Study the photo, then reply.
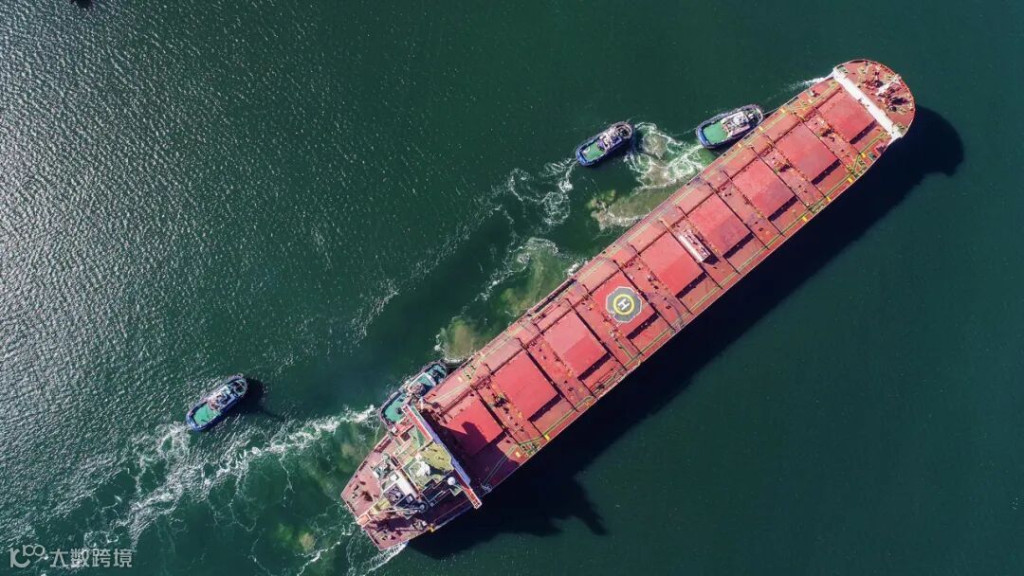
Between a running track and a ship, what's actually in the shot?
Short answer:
ship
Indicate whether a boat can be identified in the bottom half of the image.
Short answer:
Yes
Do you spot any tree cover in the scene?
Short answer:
No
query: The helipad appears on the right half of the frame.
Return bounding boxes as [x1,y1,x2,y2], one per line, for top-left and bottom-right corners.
[606,288,641,323]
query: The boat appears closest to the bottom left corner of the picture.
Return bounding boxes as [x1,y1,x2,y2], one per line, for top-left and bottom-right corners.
[183,377,248,432]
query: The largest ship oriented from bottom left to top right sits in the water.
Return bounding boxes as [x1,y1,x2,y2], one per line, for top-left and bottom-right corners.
[342,57,916,549]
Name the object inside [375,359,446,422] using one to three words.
boat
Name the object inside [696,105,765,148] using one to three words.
boat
